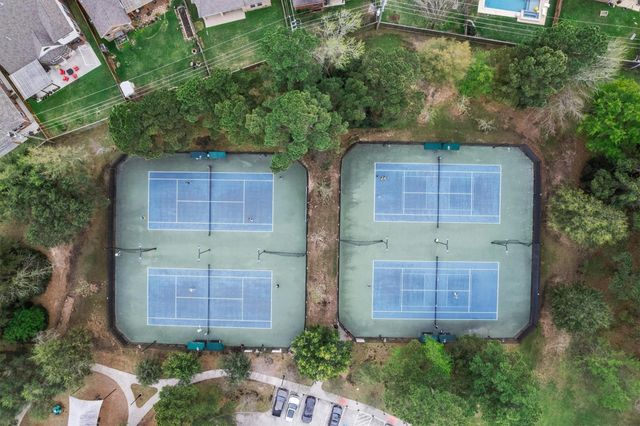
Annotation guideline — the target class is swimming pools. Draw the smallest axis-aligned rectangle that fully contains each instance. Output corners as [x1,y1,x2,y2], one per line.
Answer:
[478,0,547,25]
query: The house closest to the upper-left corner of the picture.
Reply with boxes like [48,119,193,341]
[0,0,85,76]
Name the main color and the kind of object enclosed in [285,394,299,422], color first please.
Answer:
white vehicle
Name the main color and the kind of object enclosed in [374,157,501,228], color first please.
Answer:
blue tennis court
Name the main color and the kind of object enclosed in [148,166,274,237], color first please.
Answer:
blue tennis court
